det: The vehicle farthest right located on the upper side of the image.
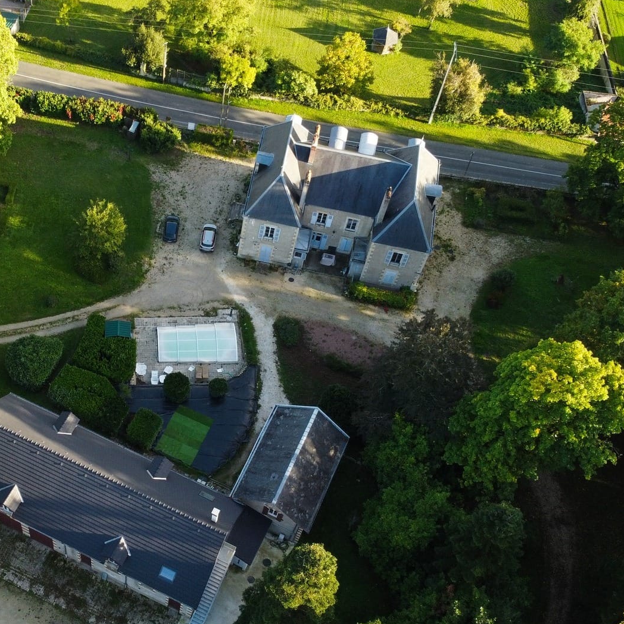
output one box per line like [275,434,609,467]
[200,220,219,251]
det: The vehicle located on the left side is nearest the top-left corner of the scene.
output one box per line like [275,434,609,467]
[163,213,181,241]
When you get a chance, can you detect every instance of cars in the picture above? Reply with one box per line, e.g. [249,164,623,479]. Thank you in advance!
[200,220,219,251]
[163,213,181,241]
